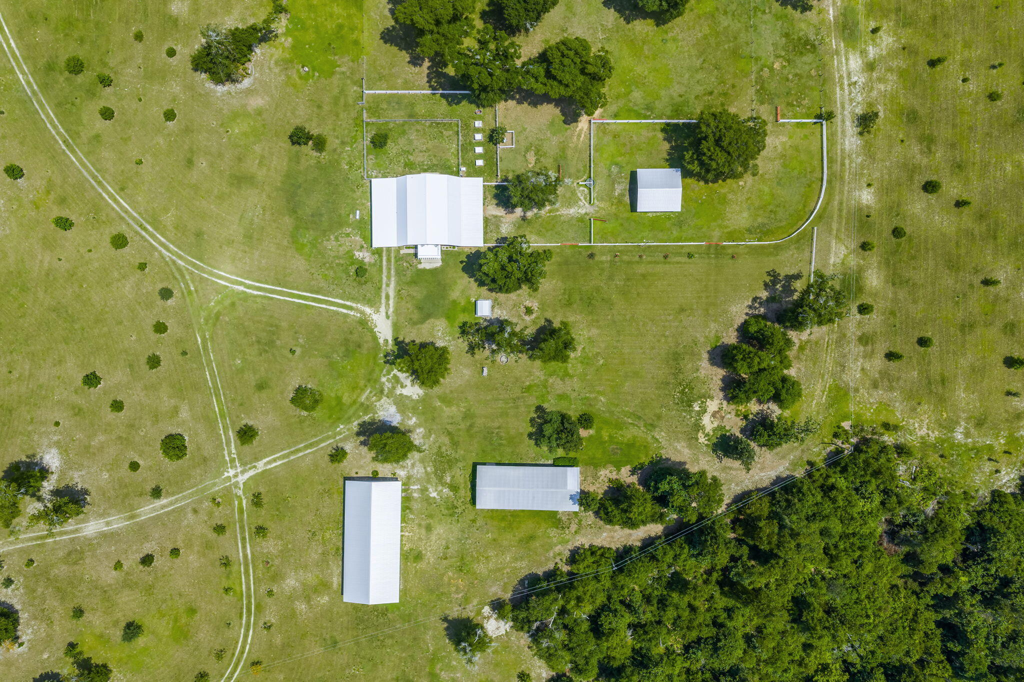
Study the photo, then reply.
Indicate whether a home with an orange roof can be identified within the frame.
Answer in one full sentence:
No, there appears to be no home with an orange roof in this shot.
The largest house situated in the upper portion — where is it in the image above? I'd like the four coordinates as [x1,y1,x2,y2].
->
[371,172,484,249]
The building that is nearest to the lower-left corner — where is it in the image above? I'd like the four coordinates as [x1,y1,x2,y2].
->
[343,479,403,605]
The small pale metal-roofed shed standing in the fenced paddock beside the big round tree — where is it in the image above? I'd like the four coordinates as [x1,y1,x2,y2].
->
[636,168,683,213]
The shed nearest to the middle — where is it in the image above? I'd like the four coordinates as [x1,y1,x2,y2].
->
[474,299,492,317]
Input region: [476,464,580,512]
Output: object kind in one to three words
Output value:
building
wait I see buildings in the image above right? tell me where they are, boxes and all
[636,168,683,213]
[474,299,492,317]
[476,464,580,512]
[371,172,484,249]
[343,479,403,605]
